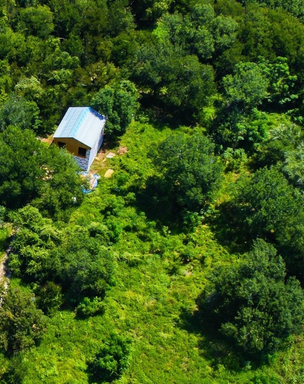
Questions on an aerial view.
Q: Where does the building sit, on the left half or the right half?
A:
left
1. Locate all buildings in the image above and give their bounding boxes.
[52,108,106,169]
